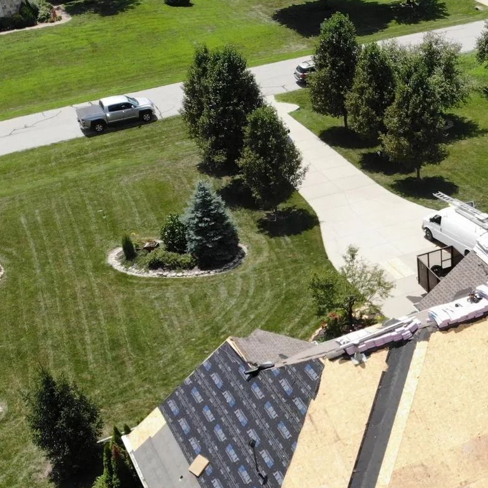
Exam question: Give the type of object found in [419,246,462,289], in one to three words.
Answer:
trailer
